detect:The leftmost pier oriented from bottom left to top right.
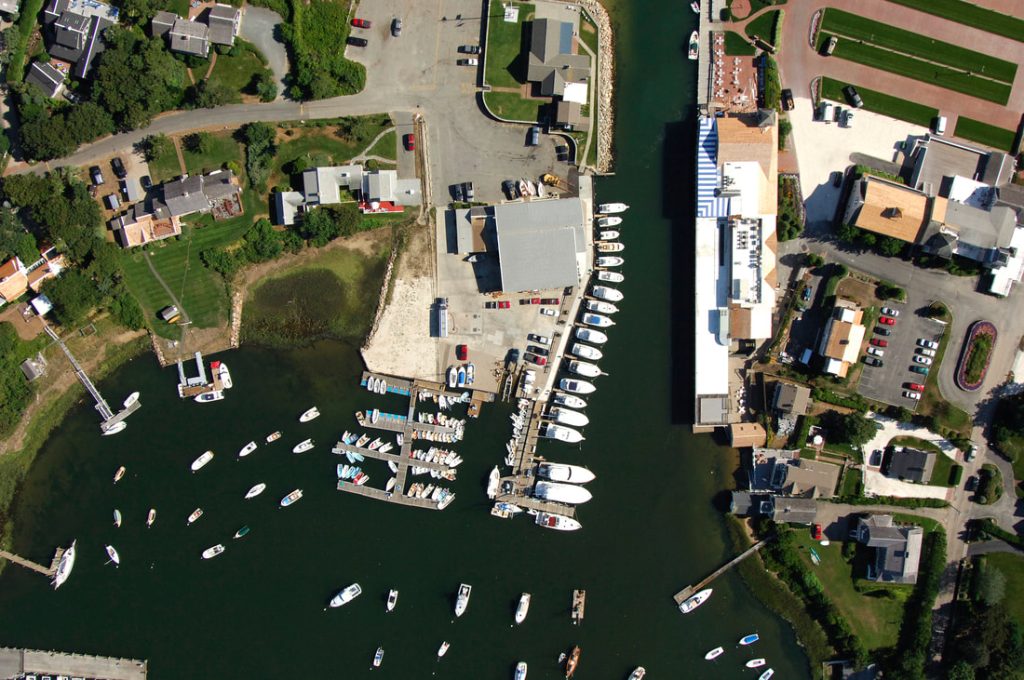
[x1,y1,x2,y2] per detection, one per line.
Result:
[100,401,142,432]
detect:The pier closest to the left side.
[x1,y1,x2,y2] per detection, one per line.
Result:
[0,547,65,577]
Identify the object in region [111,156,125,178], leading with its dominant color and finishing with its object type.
black car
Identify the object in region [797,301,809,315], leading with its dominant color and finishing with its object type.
gray vehicle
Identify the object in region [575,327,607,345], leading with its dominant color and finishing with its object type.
white boat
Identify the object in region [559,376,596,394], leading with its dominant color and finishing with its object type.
white boat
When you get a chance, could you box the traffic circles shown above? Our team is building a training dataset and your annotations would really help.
[955,319,998,391]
